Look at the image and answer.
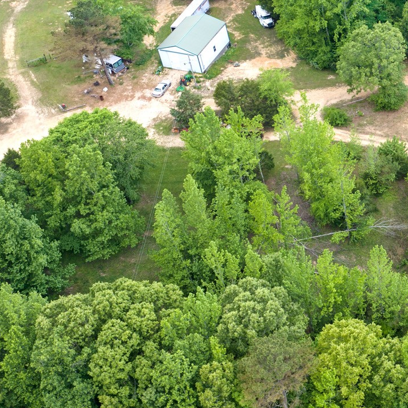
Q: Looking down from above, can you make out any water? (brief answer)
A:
No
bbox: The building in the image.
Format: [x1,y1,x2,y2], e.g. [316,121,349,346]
[156,13,229,73]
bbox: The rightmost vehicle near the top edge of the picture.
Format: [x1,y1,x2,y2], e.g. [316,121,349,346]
[251,6,270,27]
